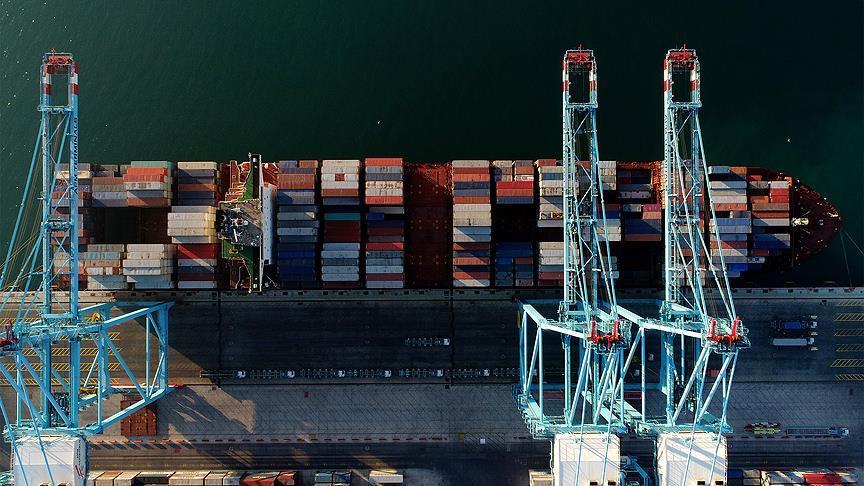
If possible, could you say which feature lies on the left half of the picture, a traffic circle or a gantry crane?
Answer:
gantry crane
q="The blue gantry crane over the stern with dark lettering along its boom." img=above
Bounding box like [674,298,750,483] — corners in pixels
[0,46,190,486]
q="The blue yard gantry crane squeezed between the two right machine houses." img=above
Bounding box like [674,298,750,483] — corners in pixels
[618,442,652,486]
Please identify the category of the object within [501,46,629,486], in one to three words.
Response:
container crane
